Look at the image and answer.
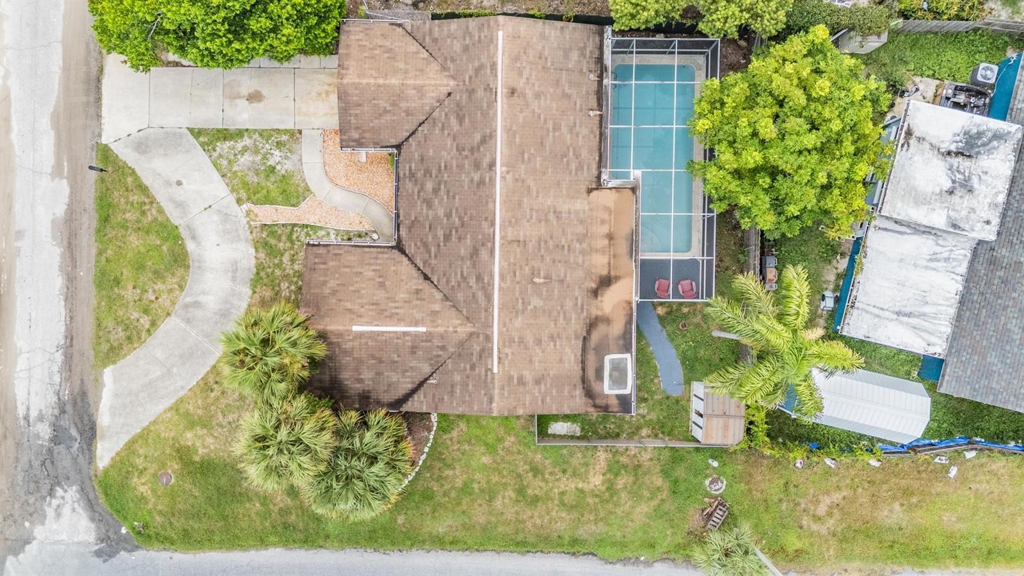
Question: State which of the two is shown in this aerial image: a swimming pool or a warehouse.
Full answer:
The image shows a swimming pool.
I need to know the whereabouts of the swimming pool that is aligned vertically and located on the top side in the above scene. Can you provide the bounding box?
[609,60,698,256]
